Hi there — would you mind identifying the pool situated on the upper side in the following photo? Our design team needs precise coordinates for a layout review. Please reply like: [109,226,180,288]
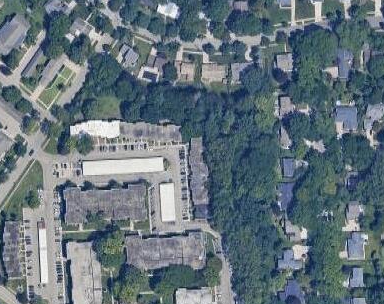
[140,66,160,83]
